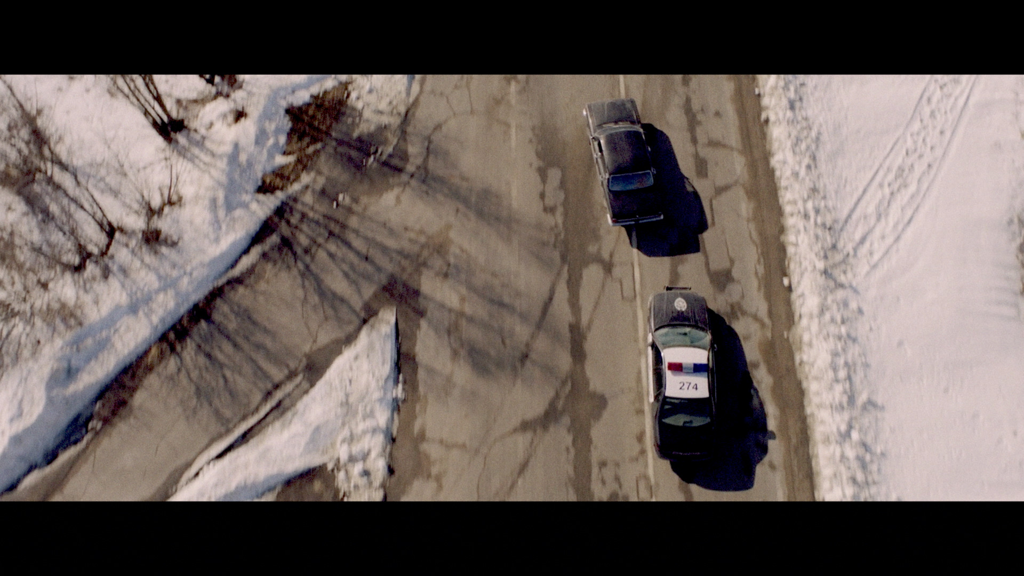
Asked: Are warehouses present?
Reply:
No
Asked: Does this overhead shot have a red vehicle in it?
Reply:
No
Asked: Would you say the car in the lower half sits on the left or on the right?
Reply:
right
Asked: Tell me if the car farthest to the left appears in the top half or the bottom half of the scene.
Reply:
top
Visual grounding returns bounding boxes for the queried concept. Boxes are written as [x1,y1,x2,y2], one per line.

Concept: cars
[646,286,720,459]
[583,97,664,231]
